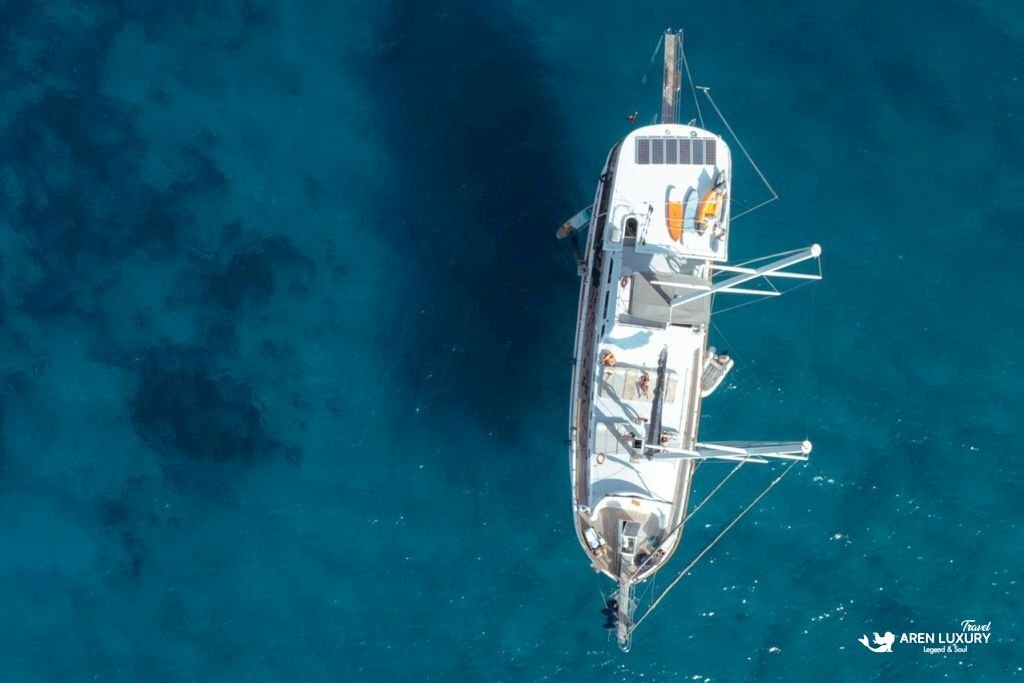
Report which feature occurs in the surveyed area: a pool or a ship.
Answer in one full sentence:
This aerial view contains a ship.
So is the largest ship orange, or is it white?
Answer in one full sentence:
The largest ship looks white in the image.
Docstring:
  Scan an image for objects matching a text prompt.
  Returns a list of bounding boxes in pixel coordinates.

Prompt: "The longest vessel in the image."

[564,27,824,652]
